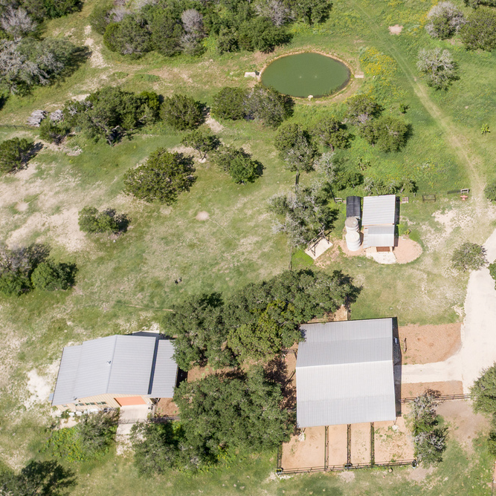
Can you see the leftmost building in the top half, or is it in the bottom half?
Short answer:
bottom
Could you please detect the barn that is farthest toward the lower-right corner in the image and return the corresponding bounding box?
[298,318,398,432]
